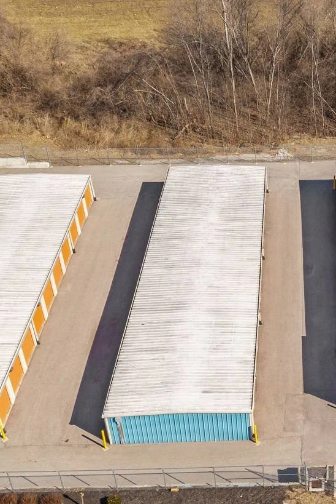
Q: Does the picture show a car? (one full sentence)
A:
No, no car is visible in the scene.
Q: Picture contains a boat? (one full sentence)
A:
No, there isn't any boat down there.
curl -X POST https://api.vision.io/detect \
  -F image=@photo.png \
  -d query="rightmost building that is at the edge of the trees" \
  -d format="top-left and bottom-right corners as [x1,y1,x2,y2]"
[101,165,268,446]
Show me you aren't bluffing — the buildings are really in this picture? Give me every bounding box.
[101,165,268,446]
[0,173,96,436]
